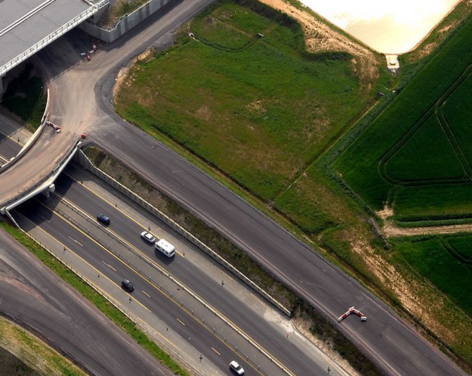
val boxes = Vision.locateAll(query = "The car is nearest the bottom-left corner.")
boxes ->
[119,277,136,292]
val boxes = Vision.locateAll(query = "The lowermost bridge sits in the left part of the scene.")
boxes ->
[0,117,85,225]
